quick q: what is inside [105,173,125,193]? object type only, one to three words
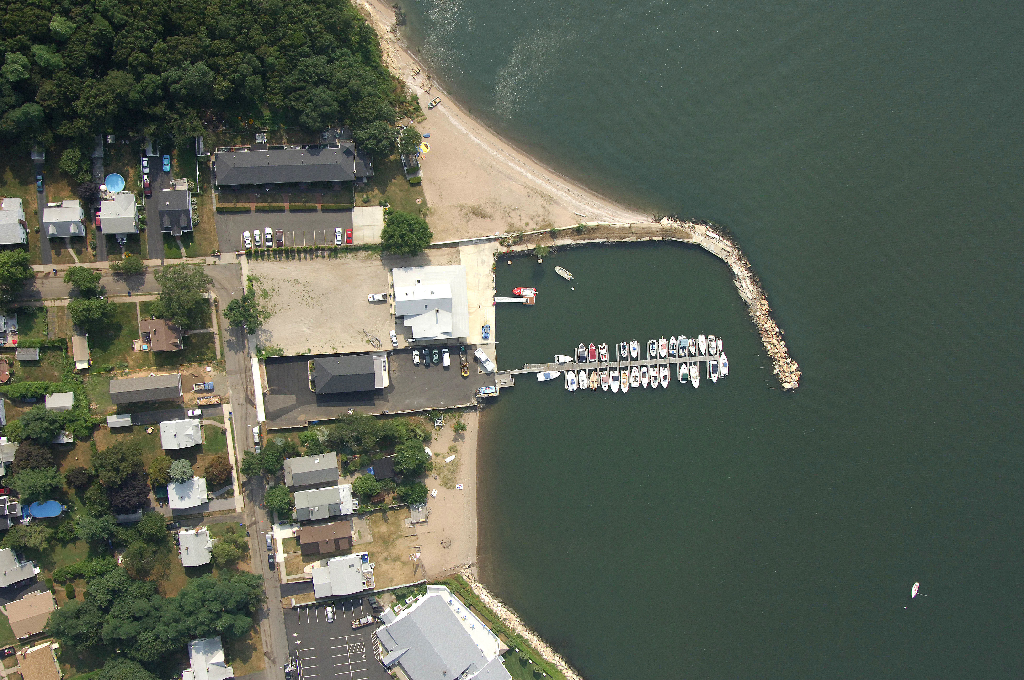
swimming pool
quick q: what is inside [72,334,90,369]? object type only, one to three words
building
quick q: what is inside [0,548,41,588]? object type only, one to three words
house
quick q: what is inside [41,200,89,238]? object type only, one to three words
house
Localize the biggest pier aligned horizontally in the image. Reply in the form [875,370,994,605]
[524,337,720,388]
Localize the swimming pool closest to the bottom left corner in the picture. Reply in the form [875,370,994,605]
[29,500,62,518]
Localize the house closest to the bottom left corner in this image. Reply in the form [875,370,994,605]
[17,641,63,680]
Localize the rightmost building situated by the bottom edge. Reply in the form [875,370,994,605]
[376,584,512,680]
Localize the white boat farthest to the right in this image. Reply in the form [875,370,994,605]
[911,582,930,602]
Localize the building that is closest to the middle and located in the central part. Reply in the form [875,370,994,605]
[392,265,469,342]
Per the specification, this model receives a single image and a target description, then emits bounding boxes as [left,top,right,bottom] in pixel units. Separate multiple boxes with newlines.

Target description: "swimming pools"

[29,500,62,518]
[105,173,125,193]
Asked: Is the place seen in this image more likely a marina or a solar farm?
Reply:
marina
